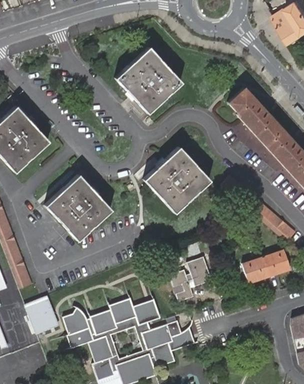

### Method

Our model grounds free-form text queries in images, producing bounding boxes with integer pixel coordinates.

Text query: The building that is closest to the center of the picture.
[142,148,212,215]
